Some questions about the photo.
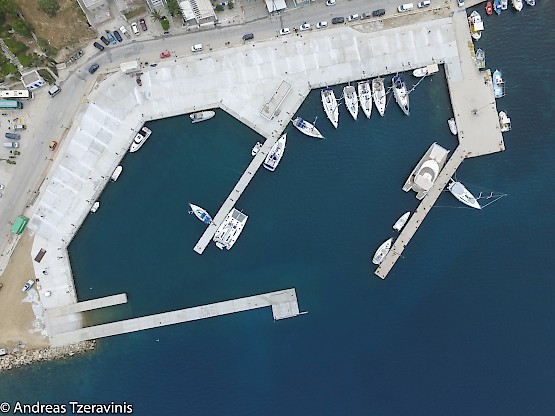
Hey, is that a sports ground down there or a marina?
marina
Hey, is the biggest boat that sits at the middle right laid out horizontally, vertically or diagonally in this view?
diagonally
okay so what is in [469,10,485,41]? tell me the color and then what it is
white boat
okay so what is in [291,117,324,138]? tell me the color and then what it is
white boat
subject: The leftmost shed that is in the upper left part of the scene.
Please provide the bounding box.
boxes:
[21,70,46,90]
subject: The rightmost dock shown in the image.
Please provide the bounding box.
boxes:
[373,10,505,279]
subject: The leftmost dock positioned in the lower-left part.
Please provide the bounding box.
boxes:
[45,292,129,319]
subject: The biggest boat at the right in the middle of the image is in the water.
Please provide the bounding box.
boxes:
[401,141,451,200]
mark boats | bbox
[391,72,427,115]
[392,212,410,231]
[253,141,261,154]
[130,127,153,152]
[371,74,393,115]
[189,111,214,122]
[372,238,397,264]
[476,49,485,69]
[215,209,247,249]
[357,77,378,119]
[401,141,451,200]
[469,10,485,41]
[483,2,491,17]
[501,0,507,11]
[264,133,287,170]
[413,64,441,76]
[448,180,507,209]
[112,166,122,181]
[510,0,522,11]
[492,0,501,16]
[189,204,215,224]
[522,0,534,6]
[498,111,513,133]
[344,82,362,120]
[321,85,339,128]
[491,69,504,99]
[447,117,457,133]
[291,117,324,138]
